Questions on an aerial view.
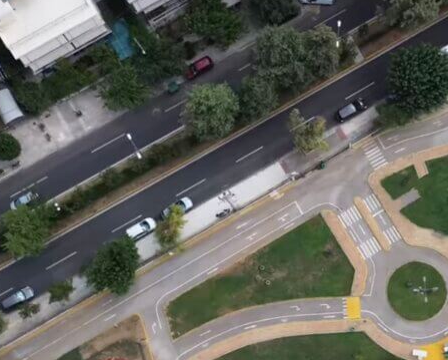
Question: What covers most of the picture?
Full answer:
The scene is dominated by paved ground.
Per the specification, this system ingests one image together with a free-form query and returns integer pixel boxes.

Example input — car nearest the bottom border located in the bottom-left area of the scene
[2,286,36,311]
